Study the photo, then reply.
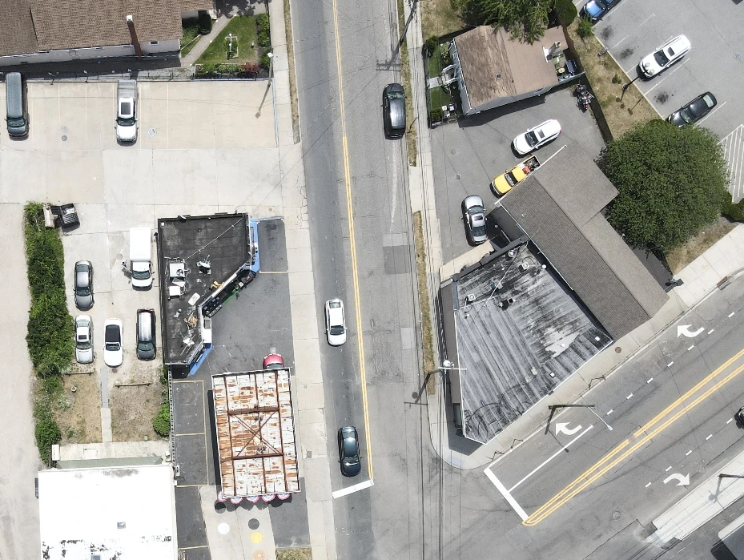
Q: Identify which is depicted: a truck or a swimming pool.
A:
truck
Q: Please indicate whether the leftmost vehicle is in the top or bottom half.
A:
top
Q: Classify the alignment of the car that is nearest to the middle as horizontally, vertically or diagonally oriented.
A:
vertically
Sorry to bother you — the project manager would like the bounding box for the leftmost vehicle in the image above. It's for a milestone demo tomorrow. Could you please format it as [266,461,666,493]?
[4,70,31,137]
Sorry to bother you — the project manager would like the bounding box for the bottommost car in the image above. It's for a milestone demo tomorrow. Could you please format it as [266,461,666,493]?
[337,426,361,478]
